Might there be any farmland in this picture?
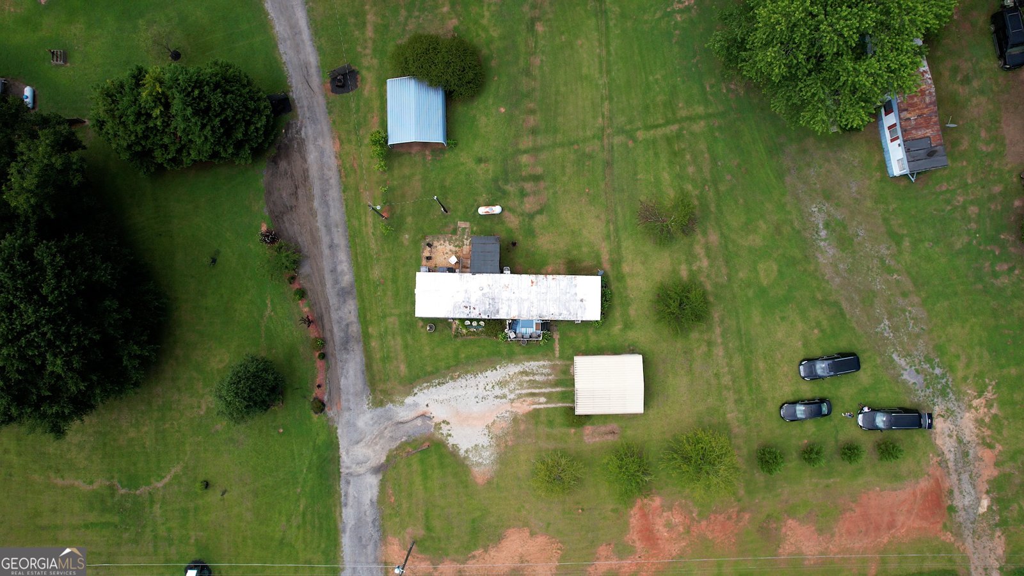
No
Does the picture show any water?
No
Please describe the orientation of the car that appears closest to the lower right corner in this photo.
from left to right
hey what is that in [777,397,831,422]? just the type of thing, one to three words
car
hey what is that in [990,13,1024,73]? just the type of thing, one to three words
car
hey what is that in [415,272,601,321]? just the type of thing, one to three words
house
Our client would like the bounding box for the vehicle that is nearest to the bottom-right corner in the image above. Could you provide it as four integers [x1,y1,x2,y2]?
[855,407,934,434]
